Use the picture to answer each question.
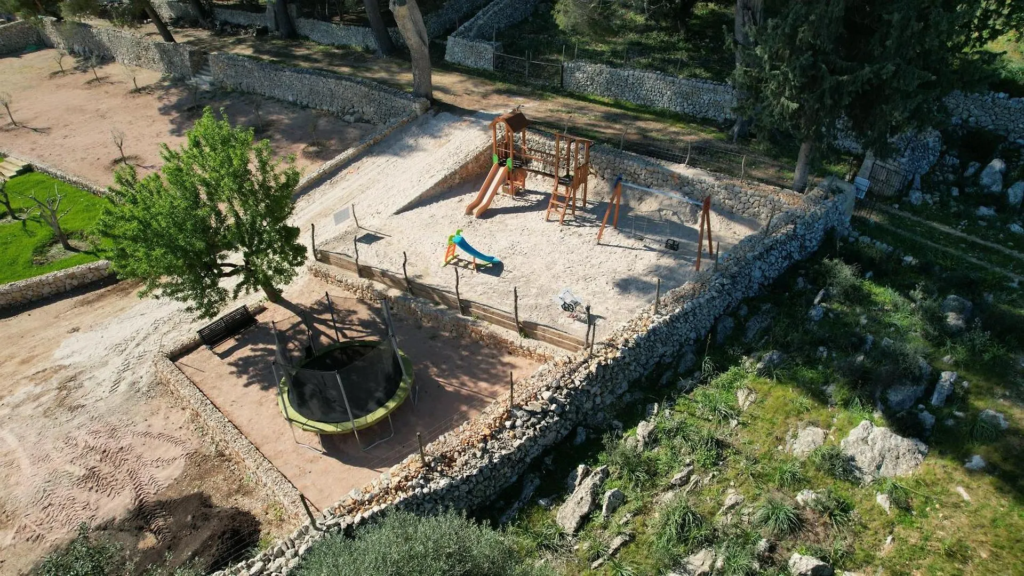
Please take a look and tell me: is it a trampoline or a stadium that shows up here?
trampoline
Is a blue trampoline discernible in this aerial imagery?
No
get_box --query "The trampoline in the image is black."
[270,290,417,456]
